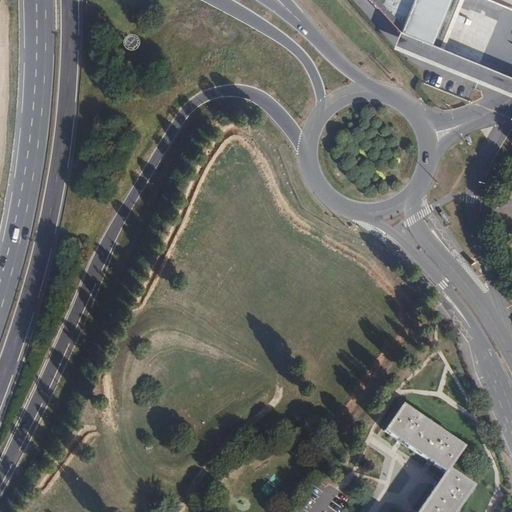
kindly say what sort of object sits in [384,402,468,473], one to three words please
building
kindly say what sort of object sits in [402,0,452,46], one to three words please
building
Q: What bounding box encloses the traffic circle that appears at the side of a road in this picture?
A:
[298,82,441,240]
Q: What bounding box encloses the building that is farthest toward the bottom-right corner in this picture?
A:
[420,466,478,512]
